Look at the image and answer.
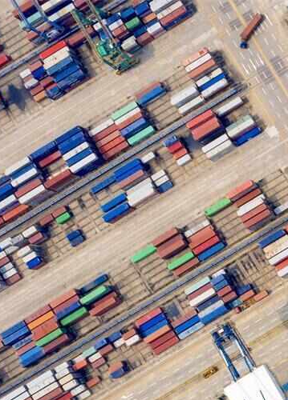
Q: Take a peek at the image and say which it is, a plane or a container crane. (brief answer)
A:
container crane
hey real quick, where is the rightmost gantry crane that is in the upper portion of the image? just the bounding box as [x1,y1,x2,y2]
[80,0,146,62]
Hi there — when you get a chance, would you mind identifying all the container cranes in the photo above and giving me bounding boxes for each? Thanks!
[5,0,66,46]
[80,0,146,62]
[207,327,287,400]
